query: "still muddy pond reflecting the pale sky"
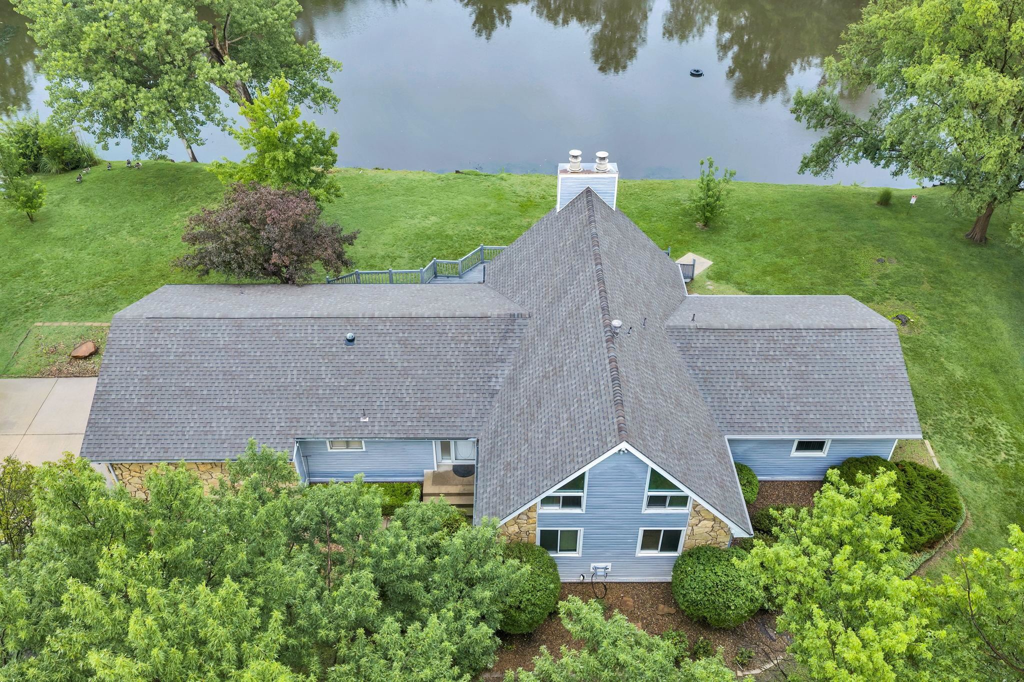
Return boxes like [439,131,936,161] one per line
[0,0,1024,191]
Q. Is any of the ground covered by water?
Yes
